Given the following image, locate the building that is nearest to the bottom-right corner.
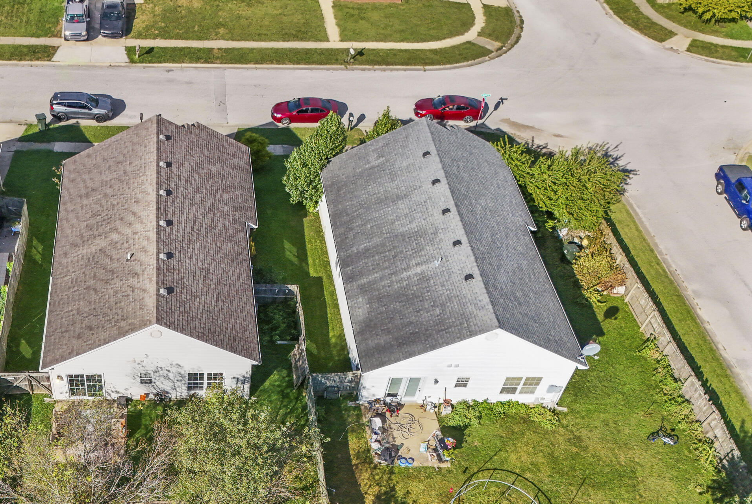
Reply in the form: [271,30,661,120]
[319,119,591,404]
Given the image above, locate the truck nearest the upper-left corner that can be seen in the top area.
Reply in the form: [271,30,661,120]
[63,0,92,35]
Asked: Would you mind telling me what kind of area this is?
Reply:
residential area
